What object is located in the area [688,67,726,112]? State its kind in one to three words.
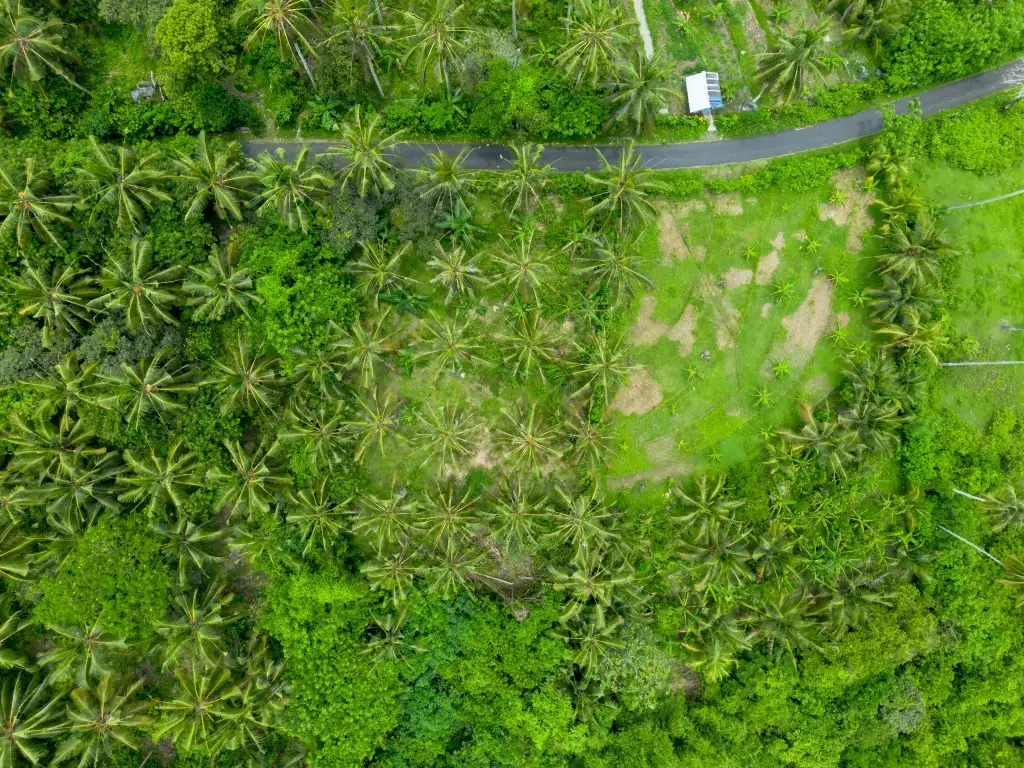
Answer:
shed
